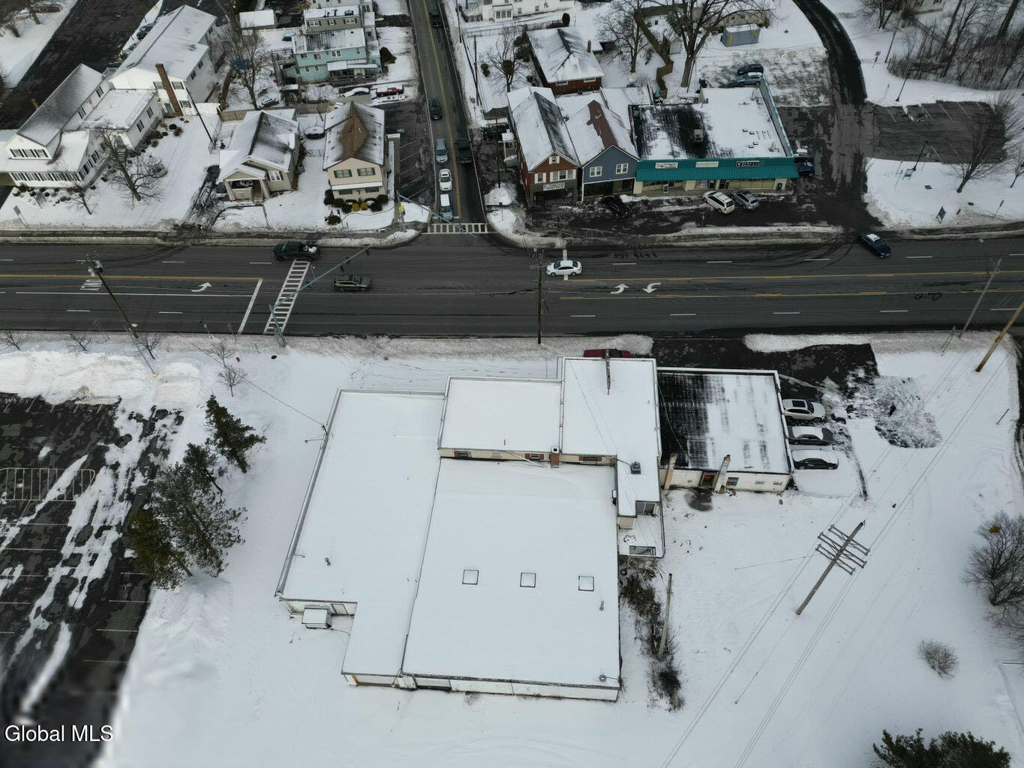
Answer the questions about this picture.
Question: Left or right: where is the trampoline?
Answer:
left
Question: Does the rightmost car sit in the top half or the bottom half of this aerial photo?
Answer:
top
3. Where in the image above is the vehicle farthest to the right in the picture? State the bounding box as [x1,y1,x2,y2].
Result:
[856,234,896,256]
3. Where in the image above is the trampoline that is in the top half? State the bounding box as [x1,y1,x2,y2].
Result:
[301,120,324,142]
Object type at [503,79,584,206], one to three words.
building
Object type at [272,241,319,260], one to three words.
vehicle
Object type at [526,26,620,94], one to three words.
house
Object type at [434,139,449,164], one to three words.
car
